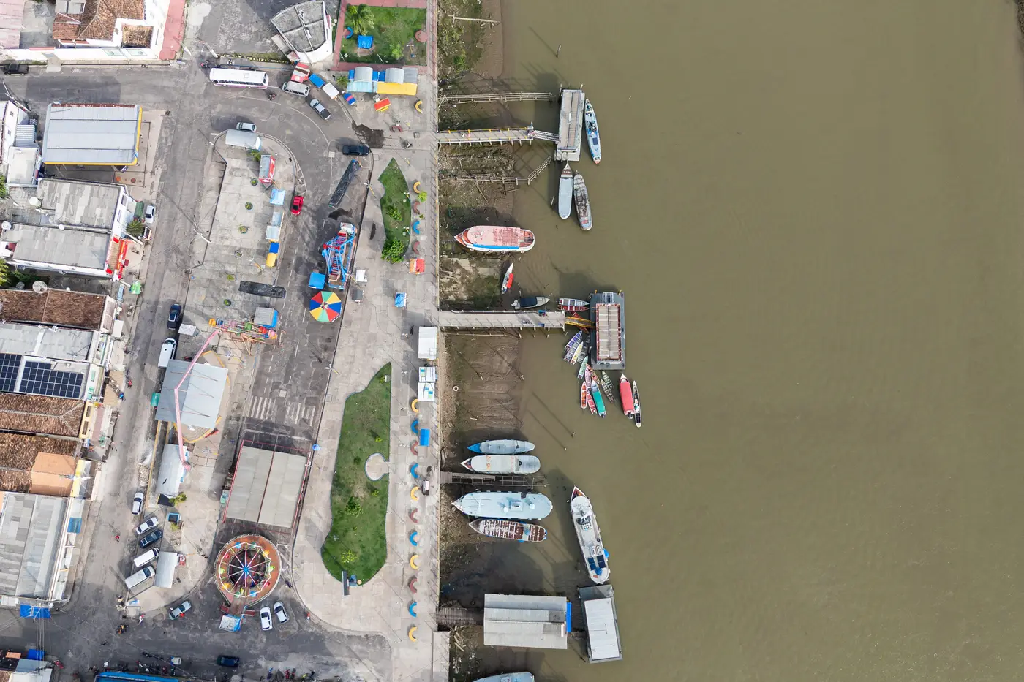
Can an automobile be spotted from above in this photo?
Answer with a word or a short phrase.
Yes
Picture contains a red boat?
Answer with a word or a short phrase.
Yes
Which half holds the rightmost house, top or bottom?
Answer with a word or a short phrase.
bottom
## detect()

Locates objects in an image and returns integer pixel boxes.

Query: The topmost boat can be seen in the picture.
[584,97,601,165]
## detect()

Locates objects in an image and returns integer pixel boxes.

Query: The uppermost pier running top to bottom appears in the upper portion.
[556,89,585,163]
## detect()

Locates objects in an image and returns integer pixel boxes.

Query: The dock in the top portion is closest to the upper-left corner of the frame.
[438,128,533,147]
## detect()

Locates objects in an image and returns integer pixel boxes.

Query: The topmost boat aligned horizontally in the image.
[455,224,535,253]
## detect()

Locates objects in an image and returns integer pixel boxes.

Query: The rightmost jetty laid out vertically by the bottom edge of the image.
[578,585,623,664]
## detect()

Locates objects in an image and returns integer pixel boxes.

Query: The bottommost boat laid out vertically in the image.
[572,487,610,584]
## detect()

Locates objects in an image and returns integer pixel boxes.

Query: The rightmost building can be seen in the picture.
[484,594,572,649]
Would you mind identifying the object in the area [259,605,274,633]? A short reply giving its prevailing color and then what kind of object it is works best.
white car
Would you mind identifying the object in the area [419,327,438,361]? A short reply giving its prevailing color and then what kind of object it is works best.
white tent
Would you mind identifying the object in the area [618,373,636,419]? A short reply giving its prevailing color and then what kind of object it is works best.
red boat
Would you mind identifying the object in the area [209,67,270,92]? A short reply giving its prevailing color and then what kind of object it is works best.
white bus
